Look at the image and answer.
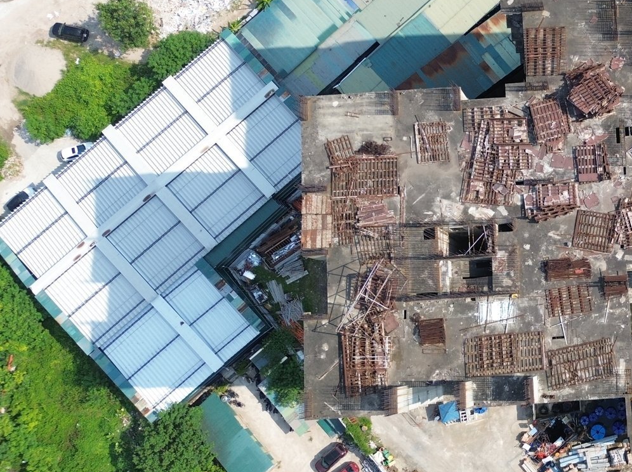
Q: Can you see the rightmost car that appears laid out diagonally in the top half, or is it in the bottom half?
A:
bottom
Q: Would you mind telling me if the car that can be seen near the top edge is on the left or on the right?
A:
left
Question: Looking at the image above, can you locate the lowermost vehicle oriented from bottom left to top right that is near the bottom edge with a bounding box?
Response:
[314,442,351,472]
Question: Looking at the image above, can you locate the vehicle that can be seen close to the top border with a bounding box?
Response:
[51,23,92,44]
